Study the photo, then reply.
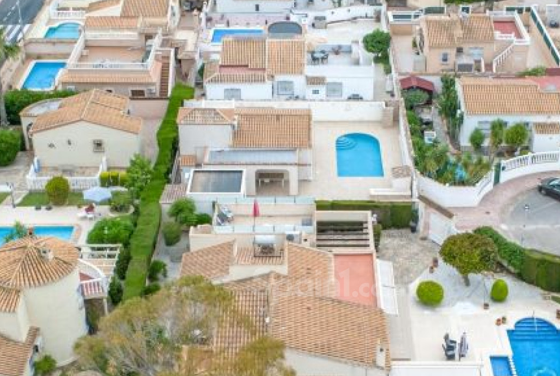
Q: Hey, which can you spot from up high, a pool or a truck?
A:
pool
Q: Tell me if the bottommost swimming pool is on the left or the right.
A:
right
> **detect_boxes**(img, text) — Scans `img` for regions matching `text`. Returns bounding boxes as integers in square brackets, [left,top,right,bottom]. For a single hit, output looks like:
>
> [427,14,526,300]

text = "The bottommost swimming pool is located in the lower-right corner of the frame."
[486,353,518,376]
